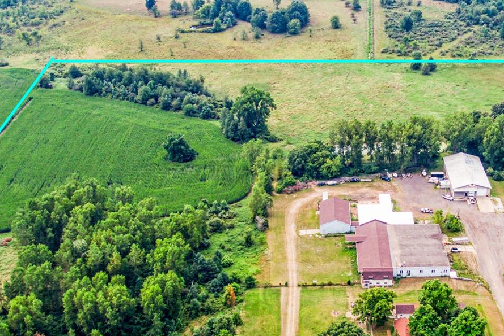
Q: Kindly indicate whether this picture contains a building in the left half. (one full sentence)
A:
No, I can find no building in the left half.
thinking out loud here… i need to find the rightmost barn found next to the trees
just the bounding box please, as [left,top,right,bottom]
[443,154,492,201]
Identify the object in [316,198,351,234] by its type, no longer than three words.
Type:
building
